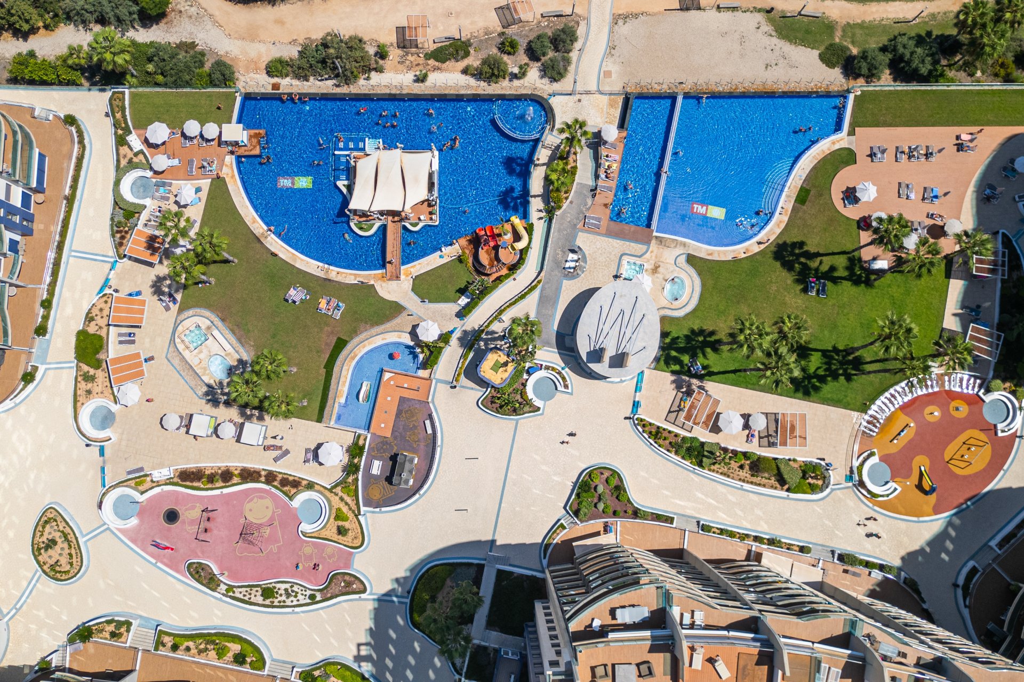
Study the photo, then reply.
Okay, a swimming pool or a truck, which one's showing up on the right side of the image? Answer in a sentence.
There is a swimming pool on the right side of the image.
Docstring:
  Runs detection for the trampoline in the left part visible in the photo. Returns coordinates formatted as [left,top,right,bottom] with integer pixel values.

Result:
[162,507,180,525]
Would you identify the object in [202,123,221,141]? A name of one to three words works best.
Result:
umbrella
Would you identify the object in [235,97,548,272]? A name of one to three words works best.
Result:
swimming pool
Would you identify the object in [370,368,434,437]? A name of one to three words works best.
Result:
shed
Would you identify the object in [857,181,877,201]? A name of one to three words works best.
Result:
umbrella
